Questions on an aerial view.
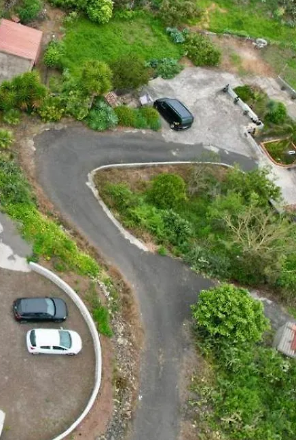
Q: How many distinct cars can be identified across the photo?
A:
3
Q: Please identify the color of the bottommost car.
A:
white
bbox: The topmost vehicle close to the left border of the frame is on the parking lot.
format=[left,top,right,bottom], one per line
[12,295,69,324]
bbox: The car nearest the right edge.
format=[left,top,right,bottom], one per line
[152,96,199,130]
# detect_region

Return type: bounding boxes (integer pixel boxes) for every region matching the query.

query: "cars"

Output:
[152,96,199,130]
[12,295,69,324]
[24,329,82,358]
